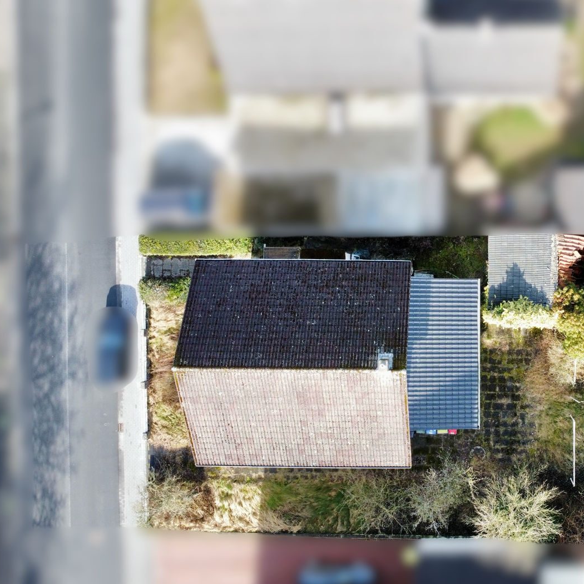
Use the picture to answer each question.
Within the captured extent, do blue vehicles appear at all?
Yes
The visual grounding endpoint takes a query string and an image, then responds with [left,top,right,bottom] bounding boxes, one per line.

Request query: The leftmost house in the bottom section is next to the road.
[172,257,414,469]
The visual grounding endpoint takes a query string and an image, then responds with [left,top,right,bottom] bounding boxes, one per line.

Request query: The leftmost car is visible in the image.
[91,311,128,379]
